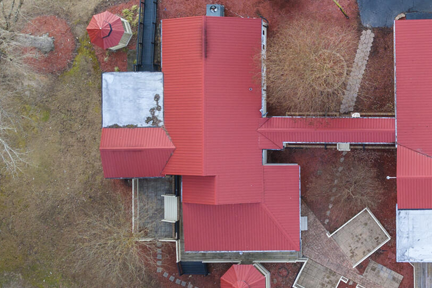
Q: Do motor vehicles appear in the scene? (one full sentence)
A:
No, there is no motor vehicle in the image.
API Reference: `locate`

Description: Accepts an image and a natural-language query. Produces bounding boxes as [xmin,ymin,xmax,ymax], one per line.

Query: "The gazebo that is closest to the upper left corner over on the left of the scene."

[86,11,136,51]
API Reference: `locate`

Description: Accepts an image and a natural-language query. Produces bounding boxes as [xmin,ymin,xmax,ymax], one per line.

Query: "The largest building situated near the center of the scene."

[100,16,396,264]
